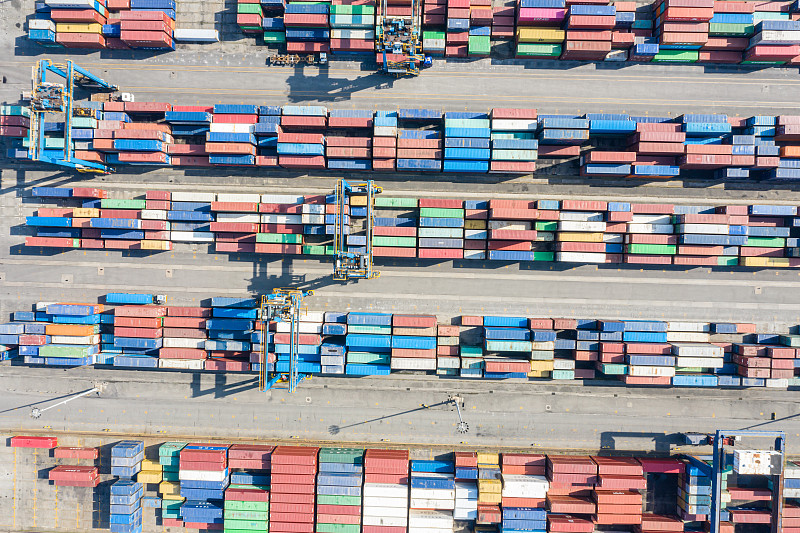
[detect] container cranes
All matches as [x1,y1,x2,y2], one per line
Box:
[259,281,317,397]
[335,176,385,284]
[377,0,422,81]
[678,432,787,533]
[38,56,123,181]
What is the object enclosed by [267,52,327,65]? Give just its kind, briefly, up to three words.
vehicle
